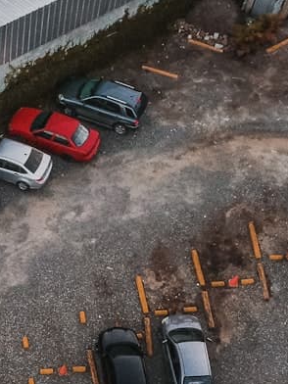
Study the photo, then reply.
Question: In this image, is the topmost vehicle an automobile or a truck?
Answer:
automobile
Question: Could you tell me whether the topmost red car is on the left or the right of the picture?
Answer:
left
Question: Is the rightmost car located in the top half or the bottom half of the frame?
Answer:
bottom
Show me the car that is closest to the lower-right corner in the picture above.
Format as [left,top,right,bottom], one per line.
[160,314,218,384]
